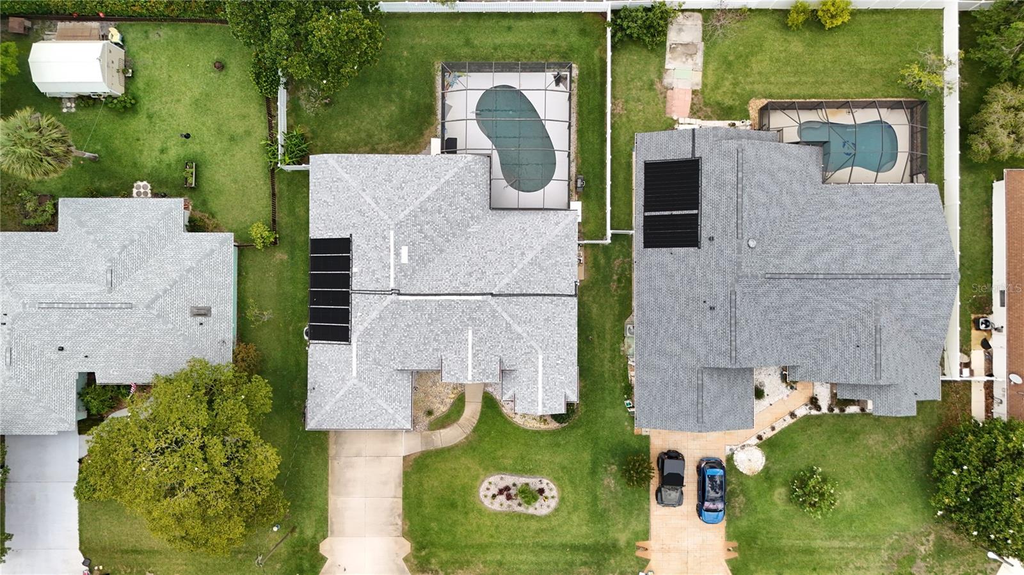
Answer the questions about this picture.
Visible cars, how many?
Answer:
two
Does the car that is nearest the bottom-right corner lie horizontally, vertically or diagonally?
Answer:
vertically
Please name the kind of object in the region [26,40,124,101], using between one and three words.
shed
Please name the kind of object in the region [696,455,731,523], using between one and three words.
car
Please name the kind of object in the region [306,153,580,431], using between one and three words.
house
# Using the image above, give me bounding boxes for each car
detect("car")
[696,455,731,523]
[656,447,691,506]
